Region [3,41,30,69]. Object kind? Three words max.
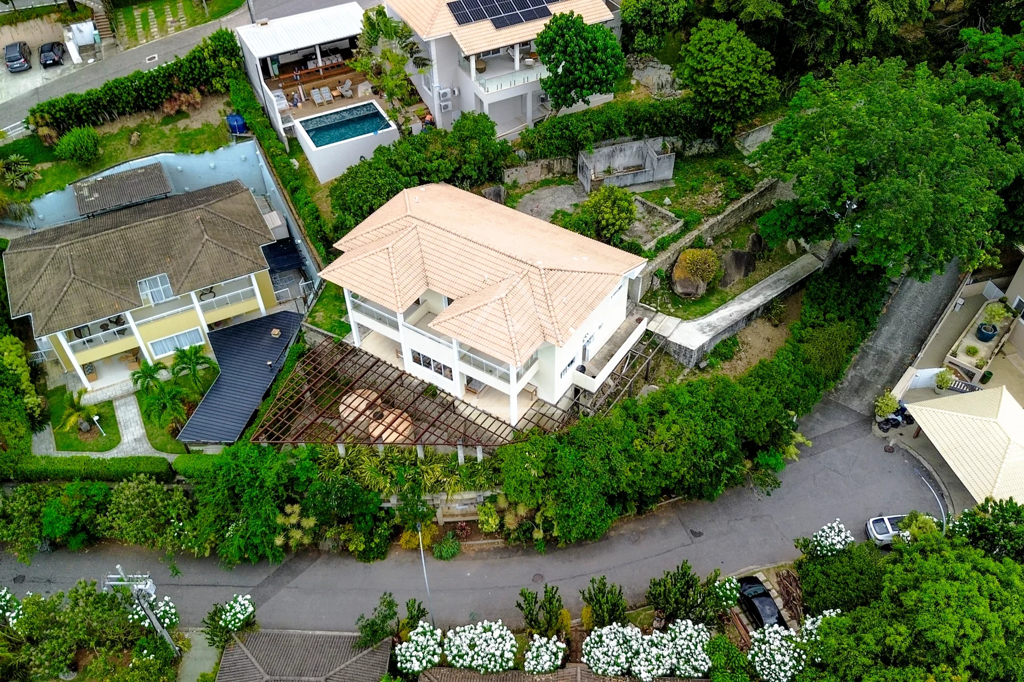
car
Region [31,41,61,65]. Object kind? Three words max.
car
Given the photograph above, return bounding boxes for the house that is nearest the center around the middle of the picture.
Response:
[317,182,646,441]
